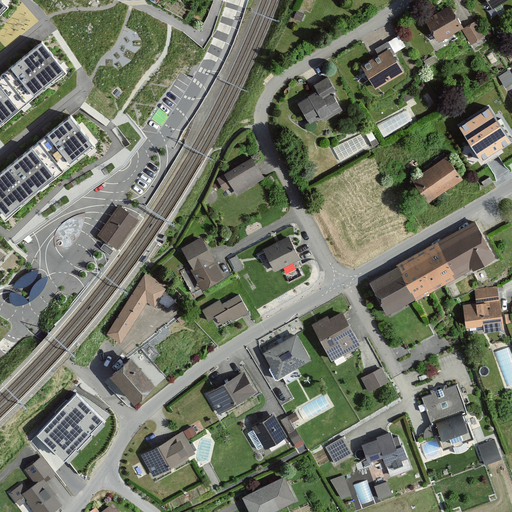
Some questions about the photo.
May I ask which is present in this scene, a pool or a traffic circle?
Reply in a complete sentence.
I can see a pool in this picture.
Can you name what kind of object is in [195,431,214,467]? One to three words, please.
swimming pool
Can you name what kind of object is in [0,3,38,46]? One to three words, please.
playground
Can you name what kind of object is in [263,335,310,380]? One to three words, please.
house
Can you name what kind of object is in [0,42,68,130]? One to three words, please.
building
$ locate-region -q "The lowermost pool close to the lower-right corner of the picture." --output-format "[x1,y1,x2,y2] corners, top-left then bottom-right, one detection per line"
[420,436,447,462]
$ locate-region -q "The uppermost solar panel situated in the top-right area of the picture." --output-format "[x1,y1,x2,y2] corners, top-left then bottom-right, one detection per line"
[370,62,402,86]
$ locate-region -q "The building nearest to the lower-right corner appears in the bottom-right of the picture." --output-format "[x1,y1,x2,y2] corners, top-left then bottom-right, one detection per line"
[476,439,501,465]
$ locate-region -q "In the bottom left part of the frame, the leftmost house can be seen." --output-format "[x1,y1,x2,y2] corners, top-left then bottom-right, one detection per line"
[8,456,70,512]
